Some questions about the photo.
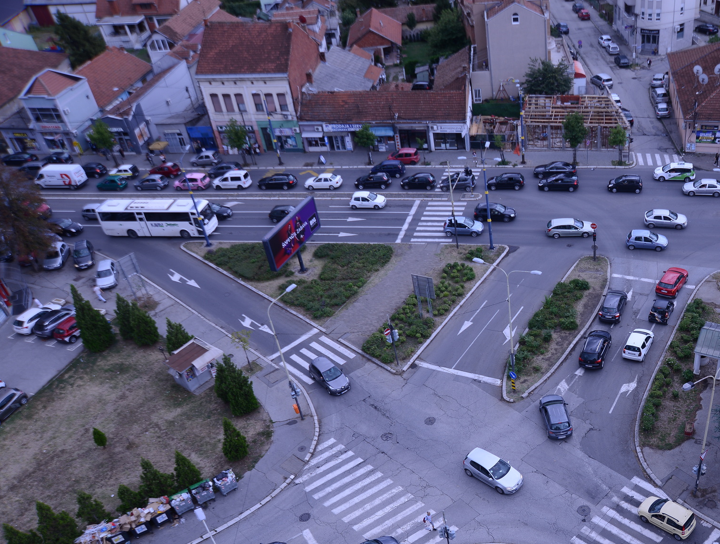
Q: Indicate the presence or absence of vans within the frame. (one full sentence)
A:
Yes, a van is visible in the scene.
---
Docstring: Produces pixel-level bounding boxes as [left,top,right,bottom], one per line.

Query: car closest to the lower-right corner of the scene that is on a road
[637,498,698,541]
